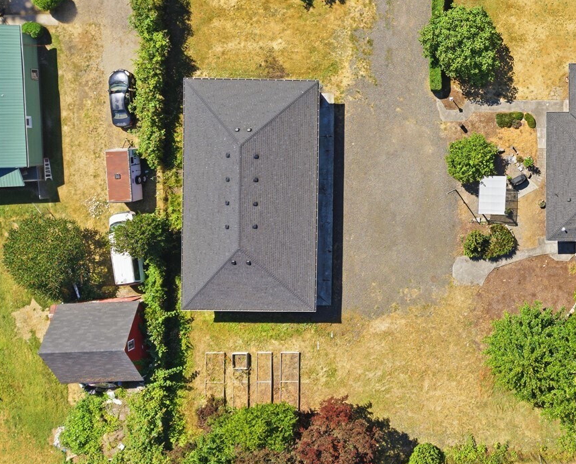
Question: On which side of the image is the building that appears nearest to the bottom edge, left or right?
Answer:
left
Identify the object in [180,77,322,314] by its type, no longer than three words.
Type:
building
